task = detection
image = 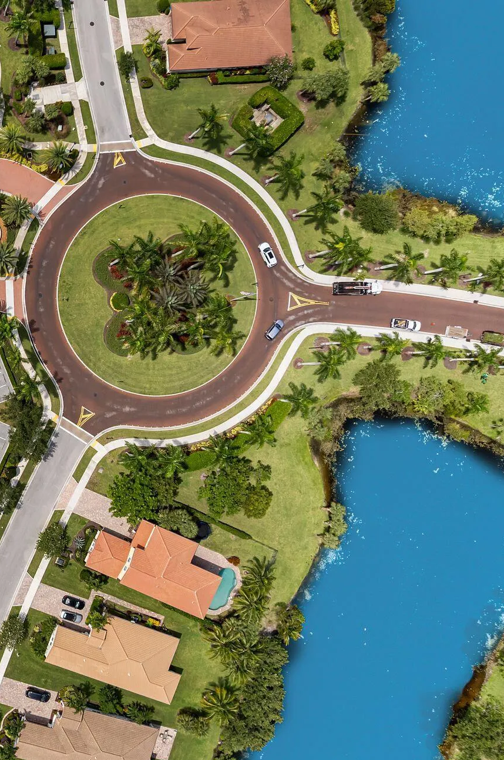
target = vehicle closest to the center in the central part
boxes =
[263,318,283,341]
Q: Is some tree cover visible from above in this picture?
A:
Yes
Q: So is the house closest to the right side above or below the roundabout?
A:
above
